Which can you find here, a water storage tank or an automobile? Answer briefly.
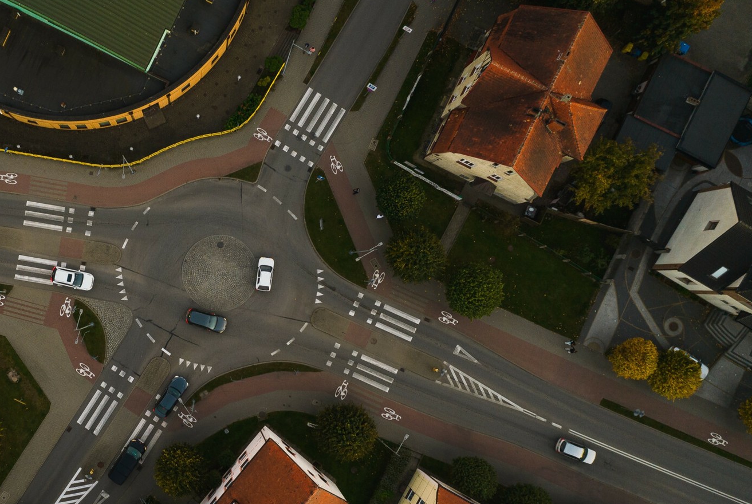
automobile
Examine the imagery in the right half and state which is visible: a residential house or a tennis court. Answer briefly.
residential house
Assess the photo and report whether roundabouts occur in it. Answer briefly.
Yes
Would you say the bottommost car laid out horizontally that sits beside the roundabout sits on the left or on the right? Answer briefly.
left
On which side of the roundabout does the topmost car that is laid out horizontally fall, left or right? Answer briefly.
on the left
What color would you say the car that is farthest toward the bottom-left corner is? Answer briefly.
black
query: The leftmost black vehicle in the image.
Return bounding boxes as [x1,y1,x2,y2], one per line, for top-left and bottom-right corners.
[108,436,145,488]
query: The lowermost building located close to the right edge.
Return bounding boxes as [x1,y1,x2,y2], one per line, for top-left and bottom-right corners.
[652,182,752,329]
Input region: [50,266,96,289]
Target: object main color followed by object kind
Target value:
white car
